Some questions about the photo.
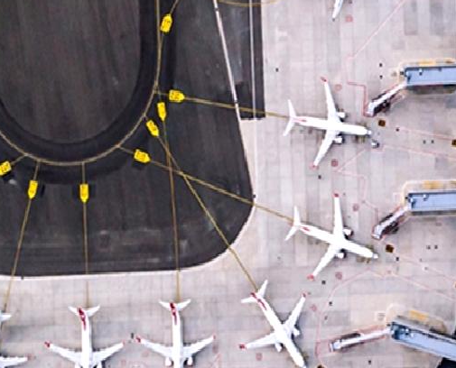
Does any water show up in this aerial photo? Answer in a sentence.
No, there is no water in the image.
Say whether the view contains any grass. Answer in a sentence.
No, no grass is visible.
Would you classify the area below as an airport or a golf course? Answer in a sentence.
What you see here is an airport.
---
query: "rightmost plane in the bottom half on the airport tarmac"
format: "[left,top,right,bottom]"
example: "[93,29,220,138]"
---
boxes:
[288,195,378,275]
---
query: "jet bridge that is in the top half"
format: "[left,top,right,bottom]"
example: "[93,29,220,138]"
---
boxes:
[366,79,405,116]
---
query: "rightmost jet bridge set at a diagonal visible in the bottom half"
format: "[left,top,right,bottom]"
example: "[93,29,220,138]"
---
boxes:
[371,203,409,239]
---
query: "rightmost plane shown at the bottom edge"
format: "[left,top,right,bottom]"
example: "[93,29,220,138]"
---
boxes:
[236,280,306,367]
